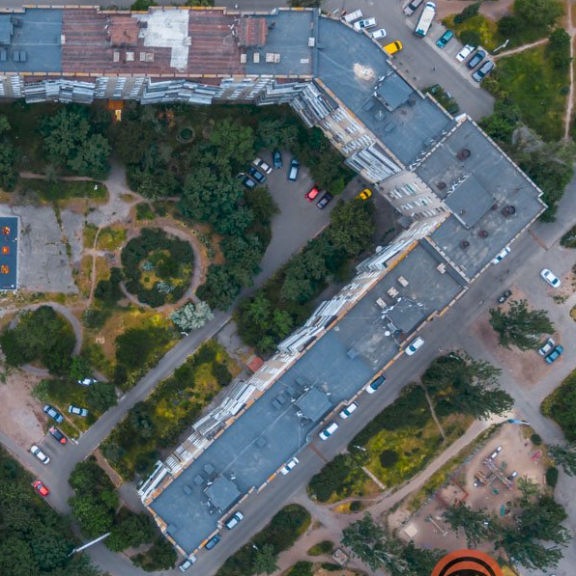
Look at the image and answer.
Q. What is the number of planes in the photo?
0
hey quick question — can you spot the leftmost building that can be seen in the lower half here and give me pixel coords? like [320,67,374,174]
[136,215,467,557]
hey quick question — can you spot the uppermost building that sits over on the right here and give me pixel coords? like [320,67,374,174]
[292,10,455,182]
